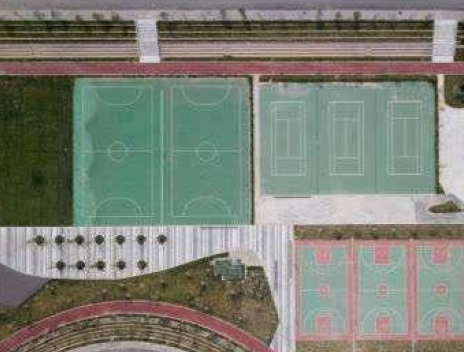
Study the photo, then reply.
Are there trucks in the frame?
No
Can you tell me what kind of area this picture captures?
sports ground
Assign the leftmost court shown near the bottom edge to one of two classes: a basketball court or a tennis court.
basketball court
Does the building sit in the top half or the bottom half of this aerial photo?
bottom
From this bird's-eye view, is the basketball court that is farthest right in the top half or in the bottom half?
bottom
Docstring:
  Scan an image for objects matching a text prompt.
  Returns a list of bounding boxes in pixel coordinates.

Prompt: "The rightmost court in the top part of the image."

[377,81,436,195]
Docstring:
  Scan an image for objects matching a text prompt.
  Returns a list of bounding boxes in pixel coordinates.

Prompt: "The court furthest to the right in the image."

[412,239,464,340]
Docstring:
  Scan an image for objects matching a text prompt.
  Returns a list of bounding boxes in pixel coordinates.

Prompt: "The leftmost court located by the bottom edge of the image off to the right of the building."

[296,239,353,340]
